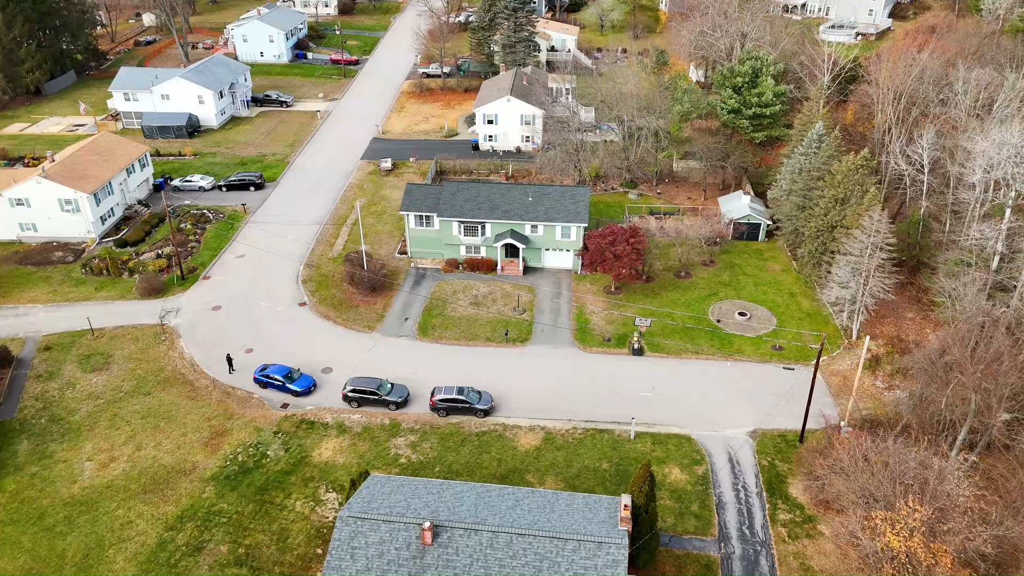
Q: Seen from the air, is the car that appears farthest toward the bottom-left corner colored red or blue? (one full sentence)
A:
The car that appears farthest toward the bottom-left corner looks blue in the image.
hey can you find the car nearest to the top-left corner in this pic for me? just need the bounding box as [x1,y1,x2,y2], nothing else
[169,172,216,191]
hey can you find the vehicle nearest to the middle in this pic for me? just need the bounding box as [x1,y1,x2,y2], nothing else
[428,382,496,418]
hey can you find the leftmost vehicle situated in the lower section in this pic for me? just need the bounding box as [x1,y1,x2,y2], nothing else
[251,361,316,396]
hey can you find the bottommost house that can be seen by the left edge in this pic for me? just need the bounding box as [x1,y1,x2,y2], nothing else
[0,128,156,247]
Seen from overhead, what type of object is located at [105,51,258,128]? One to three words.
house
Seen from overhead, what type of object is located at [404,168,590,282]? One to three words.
building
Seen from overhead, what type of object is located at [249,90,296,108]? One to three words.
vehicle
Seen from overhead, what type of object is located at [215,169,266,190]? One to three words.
car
